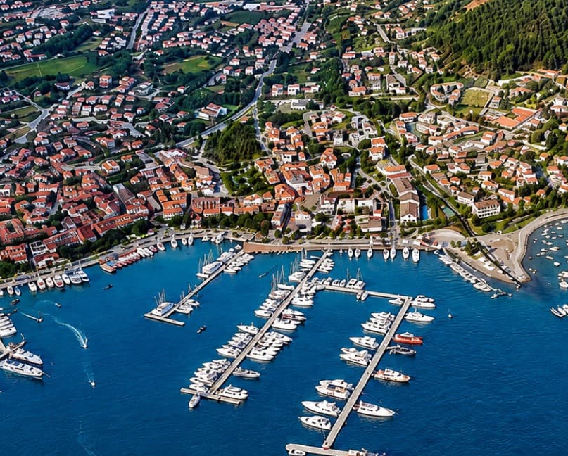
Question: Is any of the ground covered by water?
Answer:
Yes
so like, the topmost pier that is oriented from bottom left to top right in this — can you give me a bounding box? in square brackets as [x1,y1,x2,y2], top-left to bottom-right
[161,250,245,317]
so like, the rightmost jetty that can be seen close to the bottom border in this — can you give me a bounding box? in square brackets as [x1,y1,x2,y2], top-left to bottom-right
[324,295,415,450]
